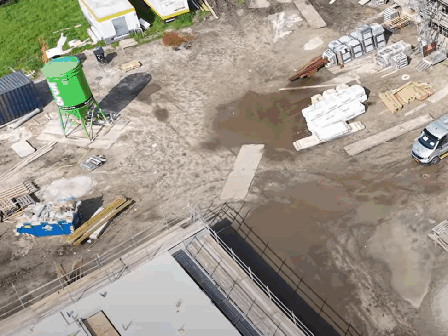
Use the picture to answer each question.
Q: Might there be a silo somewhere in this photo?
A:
Yes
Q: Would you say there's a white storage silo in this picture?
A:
No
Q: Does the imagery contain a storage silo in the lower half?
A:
No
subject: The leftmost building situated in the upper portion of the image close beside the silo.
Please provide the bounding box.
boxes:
[63,0,142,47]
